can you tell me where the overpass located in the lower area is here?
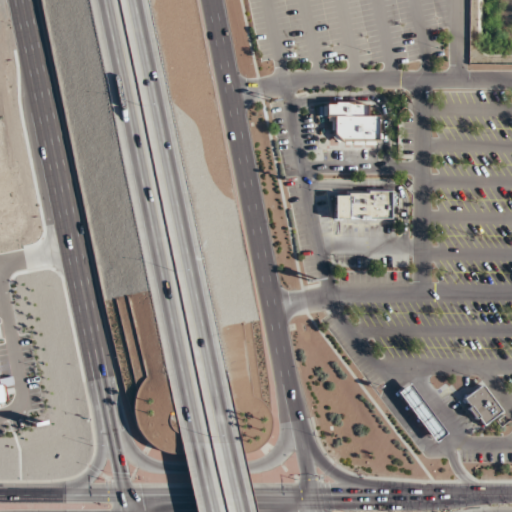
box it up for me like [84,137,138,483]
[180,431,256,512]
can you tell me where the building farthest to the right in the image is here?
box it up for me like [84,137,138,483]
[466,386,505,426]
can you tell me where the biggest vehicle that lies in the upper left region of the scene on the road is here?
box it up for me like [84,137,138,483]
[116,78,128,121]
